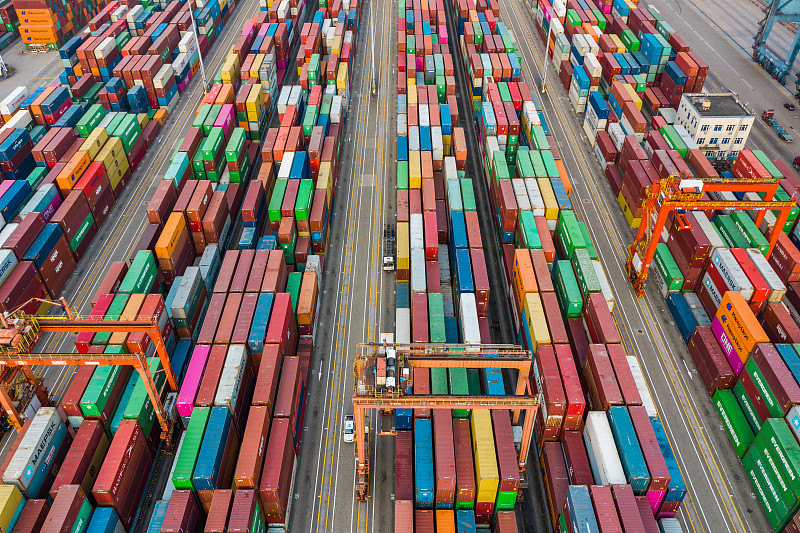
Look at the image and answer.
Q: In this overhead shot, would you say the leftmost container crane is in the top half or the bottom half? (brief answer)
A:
bottom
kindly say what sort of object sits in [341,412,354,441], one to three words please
vehicle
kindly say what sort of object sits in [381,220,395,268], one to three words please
vehicle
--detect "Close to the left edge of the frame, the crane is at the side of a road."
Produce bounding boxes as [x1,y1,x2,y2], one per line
[0,299,184,460]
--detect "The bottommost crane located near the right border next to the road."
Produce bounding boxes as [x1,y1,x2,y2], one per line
[620,175,791,292]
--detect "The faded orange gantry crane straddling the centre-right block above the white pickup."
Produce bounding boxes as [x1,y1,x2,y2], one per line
[349,345,547,506]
